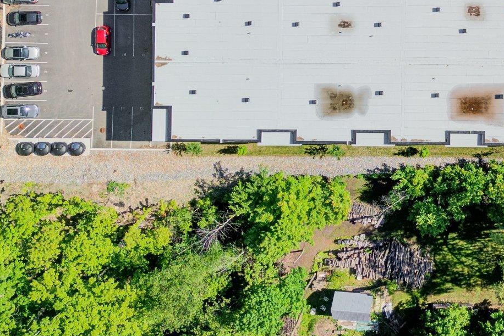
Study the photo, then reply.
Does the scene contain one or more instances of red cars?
Yes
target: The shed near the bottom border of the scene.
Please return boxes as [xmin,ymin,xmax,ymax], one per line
[330,283,377,323]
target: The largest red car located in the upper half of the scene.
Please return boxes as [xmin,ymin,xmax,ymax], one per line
[93,24,112,56]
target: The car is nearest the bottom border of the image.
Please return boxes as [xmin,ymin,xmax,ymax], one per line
[1,103,39,120]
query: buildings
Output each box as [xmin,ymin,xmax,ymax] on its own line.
[330,283,377,323]
[153,0,504,146]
